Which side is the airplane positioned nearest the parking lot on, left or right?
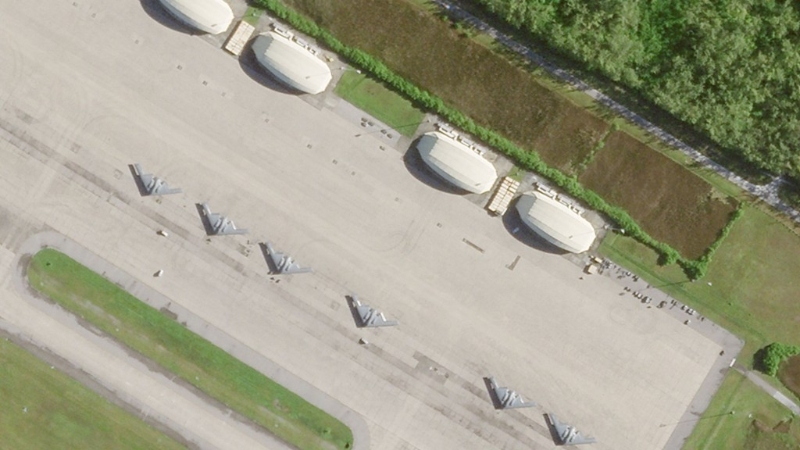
right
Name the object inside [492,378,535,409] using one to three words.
airplane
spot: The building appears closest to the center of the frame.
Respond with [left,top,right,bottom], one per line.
[415,134,493,196]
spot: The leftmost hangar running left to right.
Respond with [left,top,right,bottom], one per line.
[155,0,228,31]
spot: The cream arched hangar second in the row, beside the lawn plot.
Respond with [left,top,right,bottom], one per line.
[248,31,328,95]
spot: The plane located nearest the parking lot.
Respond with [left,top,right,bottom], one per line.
[552,414,595,445]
